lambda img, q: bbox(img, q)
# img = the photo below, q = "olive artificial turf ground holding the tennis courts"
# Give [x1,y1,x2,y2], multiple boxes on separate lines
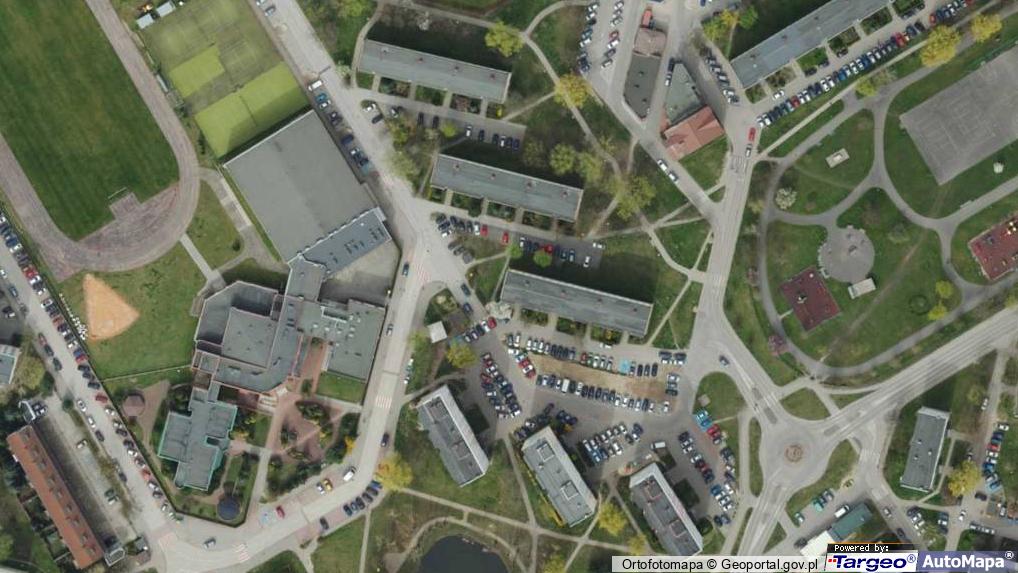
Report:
[138,0,311,158]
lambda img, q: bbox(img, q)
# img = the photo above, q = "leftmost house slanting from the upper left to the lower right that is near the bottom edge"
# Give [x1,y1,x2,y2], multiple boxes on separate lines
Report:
[5,424,109,570]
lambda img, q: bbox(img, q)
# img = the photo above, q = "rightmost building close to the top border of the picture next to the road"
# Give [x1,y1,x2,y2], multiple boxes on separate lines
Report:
[731,0,895,91]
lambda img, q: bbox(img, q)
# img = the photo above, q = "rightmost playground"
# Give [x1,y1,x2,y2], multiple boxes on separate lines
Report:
[967,213,1018,282]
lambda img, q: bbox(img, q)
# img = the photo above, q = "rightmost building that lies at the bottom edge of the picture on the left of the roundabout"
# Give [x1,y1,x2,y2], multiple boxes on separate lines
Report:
[631,457,703,562]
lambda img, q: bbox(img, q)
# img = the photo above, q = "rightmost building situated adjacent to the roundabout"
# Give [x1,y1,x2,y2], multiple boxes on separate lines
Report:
[900,404,951,492]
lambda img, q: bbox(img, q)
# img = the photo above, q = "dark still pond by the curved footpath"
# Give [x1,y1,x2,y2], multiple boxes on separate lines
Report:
[419,535,507,573]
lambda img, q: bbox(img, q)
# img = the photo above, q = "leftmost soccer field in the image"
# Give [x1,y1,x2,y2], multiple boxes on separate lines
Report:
[0,0,180,241]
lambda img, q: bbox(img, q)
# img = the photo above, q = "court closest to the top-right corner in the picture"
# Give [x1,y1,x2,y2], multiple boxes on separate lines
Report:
[900,46,1018,185]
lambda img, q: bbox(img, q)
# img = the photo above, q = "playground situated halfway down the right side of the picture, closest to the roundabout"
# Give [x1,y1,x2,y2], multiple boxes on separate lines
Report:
[780,265,840,332]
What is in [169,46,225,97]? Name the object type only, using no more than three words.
tennis court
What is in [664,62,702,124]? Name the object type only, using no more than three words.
building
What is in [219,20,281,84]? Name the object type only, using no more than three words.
tennis court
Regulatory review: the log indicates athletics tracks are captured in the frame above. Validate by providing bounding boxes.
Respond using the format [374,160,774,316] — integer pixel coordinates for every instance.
[0,0,200,283]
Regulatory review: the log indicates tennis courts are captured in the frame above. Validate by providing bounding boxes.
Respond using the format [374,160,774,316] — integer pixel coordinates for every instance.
[195,90,263,159]
[146,3,216,70]
[169,46,225,97]
[219,20,281,84]
[241,62,310,130]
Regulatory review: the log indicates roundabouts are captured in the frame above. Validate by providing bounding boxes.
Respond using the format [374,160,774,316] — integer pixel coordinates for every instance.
[743,370,900,530]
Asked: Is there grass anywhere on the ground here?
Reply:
Yes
